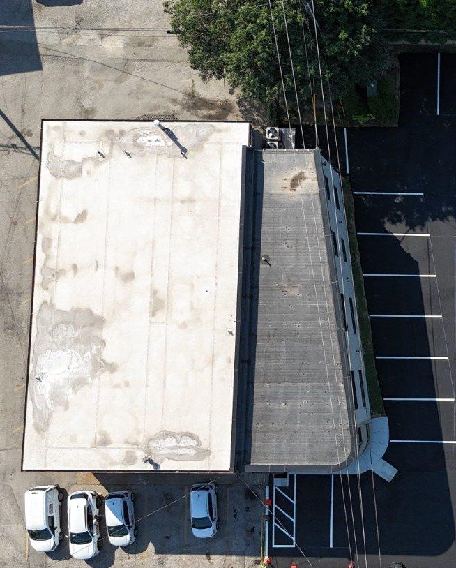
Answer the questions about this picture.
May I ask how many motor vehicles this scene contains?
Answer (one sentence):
My tally gives 4 motor vehicles in this view.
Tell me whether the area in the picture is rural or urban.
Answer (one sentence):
The area shown here is urban.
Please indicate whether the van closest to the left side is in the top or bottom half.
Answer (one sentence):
The van closest to the left side sits in the bottom half of the picture.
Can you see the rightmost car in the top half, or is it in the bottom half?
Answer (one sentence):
The rightmost car is in the bottom half of the image.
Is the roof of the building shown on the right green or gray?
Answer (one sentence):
In this view, the roof of the building shown on the right is gray.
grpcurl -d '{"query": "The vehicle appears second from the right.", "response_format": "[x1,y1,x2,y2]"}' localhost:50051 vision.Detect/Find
[106,488,141,548]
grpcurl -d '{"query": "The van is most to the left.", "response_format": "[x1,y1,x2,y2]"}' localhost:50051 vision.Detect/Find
[25,482,65,553]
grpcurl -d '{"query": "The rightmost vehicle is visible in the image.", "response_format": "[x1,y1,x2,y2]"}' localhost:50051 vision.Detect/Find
[189,479,220,539]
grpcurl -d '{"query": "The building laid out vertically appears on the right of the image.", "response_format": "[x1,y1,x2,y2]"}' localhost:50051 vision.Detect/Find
[242,149,372,473]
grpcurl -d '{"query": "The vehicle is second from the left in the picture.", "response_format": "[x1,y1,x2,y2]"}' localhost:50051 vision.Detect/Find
[67,486,105,560]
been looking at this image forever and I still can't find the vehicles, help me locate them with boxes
[189,479,220,539]
[106,488,141,548]
[25,482,65,553]
[67,486,105,560]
